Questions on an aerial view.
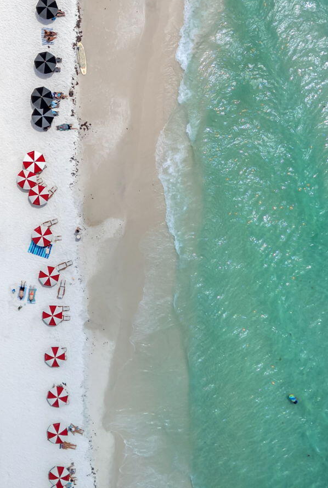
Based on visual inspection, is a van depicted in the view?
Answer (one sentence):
No, there appears to be no van in this shot.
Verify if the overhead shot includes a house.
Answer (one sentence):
No, no house can be seen from above.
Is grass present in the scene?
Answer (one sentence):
No, no grass is visible.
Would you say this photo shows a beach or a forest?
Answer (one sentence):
It's a beach.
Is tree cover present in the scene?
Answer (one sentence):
No, there's no tree cover in this view.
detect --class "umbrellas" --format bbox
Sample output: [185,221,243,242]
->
[38,266,59,287]
[29,184,50,206]
[18,170,37,190]
[49,466,70,487]
[46,347,66,367]
[32,109,55,130]
[43,304,64,324]
[47,421,68,442]
[23,152,45,174]
[31,87,54,110]
[32,225,53,246]
[48,385,69,406]
[34,53,57,76]
[35,0,59,21]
